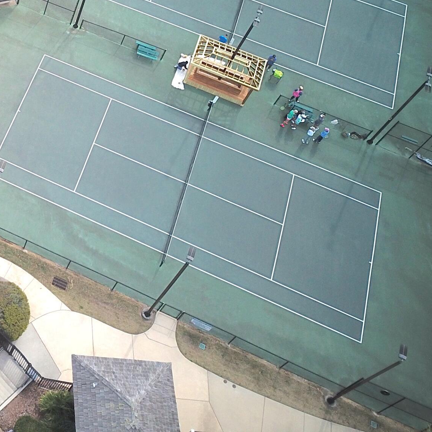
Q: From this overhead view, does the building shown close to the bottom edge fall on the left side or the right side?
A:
left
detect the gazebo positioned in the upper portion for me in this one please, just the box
[184,33,268,106]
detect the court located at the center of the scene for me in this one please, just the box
[0,54,381,343]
